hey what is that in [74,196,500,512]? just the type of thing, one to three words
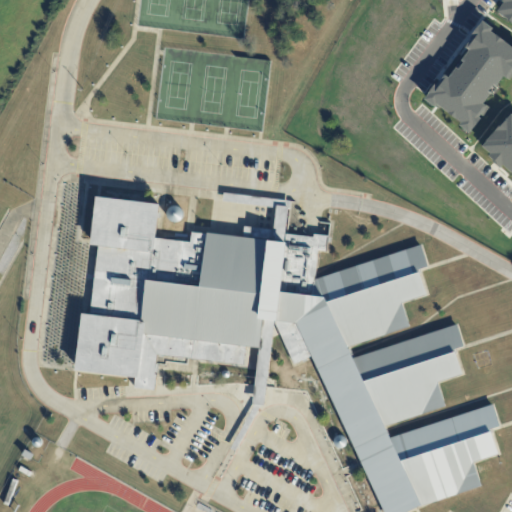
building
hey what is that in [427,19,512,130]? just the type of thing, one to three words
building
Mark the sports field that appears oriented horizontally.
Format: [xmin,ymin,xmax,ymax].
[44,492,144,512]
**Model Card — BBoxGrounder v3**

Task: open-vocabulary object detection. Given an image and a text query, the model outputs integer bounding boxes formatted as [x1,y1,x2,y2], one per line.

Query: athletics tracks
[26,456,174,512]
